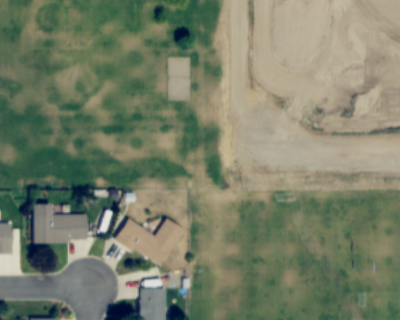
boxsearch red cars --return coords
[70,243,75,254]
[126,282,138,288]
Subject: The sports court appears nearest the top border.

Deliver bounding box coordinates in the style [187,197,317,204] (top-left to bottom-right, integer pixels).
[168,58,190,78]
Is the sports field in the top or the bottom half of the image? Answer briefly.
bottom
